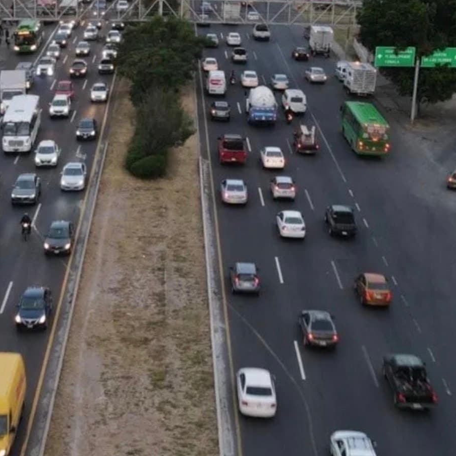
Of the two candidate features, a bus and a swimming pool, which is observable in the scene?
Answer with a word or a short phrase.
bus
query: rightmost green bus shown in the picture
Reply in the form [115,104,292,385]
[343,99,390,150]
